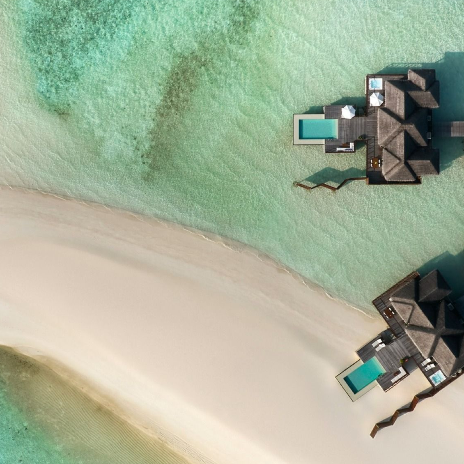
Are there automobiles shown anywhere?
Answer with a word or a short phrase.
No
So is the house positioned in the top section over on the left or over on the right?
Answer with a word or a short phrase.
right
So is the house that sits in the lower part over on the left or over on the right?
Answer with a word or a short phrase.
right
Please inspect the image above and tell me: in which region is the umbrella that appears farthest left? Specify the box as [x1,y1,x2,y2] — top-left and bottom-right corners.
[342,105,356,119]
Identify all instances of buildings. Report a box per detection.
[363,69,440,184]
[370,270,464,394]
